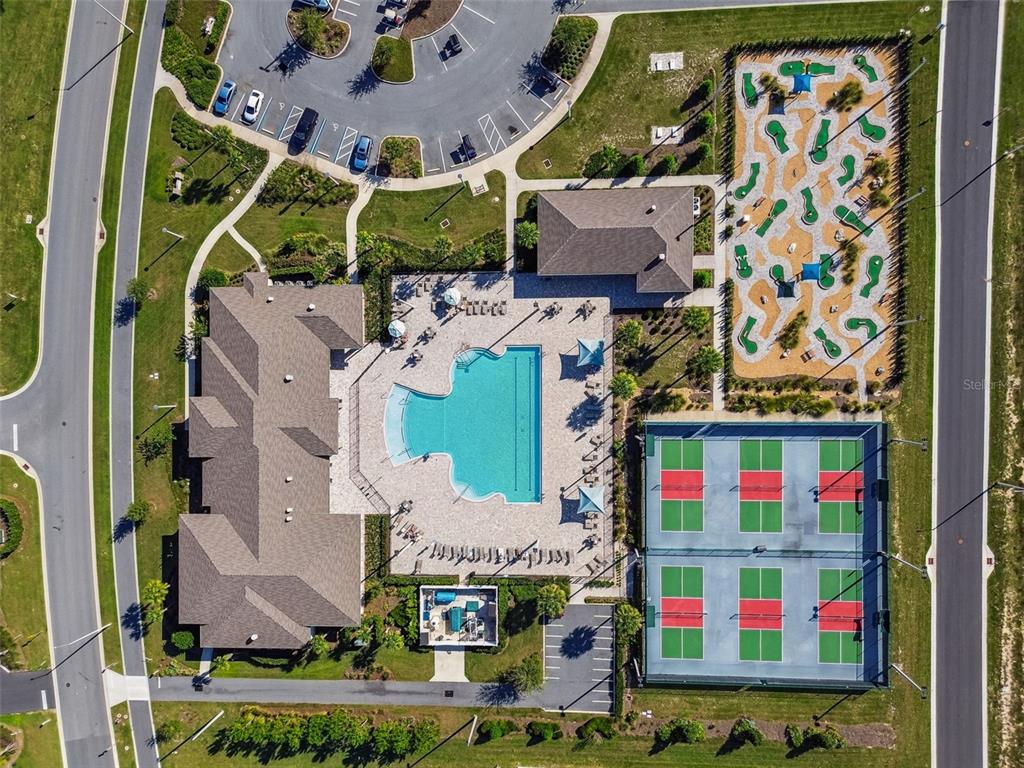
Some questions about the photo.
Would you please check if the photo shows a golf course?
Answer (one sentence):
Yes, the picture does show a golf course.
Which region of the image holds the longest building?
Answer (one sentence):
The longest building sits in the left section of the image.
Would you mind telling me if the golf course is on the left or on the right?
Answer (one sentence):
The golf course is on the right side of the image.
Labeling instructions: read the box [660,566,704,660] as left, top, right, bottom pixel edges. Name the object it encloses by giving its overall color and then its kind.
green sports court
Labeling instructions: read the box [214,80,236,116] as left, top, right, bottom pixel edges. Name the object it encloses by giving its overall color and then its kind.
blue car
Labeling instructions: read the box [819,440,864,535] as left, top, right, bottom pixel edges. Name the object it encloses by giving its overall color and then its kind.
green sports court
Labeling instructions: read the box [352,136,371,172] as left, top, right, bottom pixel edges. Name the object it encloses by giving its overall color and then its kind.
blue car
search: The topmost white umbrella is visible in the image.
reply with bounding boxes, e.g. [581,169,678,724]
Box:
[444,289,461,306]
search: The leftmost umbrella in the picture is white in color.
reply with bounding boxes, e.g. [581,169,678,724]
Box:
[389,321,406,337]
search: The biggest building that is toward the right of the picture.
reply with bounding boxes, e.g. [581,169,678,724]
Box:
[537,186,694,293]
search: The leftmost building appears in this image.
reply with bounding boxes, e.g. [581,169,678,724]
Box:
[178,272,363,649]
